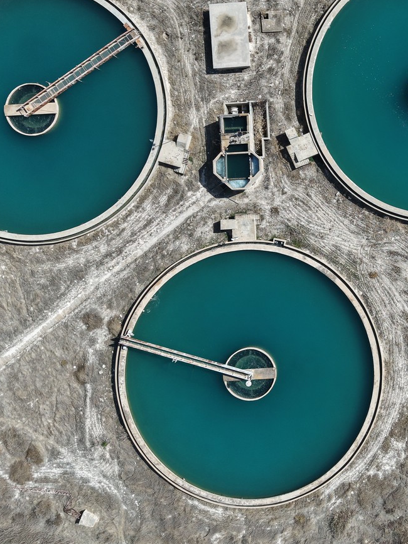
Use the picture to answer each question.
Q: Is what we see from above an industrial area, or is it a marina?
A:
industrial area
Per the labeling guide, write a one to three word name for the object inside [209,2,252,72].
shed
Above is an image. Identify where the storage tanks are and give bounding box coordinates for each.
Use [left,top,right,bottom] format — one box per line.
[0,0,173,247]
[300,0,408,223]
[114,231,386,510]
